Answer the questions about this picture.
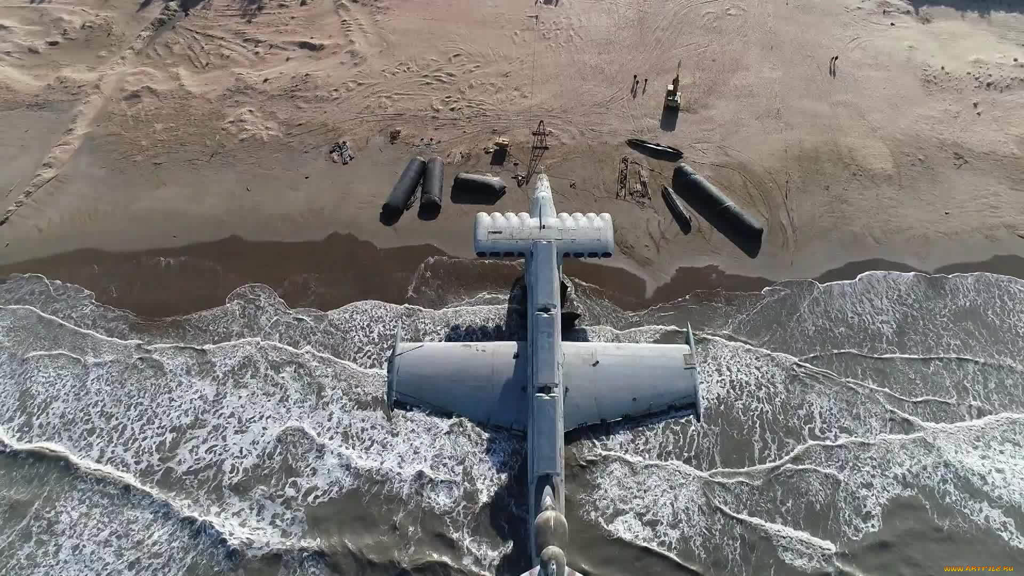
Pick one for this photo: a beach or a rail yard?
beach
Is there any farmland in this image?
No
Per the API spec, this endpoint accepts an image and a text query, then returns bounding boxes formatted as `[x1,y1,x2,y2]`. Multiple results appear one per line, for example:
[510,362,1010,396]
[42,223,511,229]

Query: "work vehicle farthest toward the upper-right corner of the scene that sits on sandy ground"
[664,58,684,111]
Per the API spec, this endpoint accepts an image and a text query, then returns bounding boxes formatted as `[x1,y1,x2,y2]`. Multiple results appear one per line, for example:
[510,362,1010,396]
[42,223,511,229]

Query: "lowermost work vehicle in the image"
[493,132,509,154]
